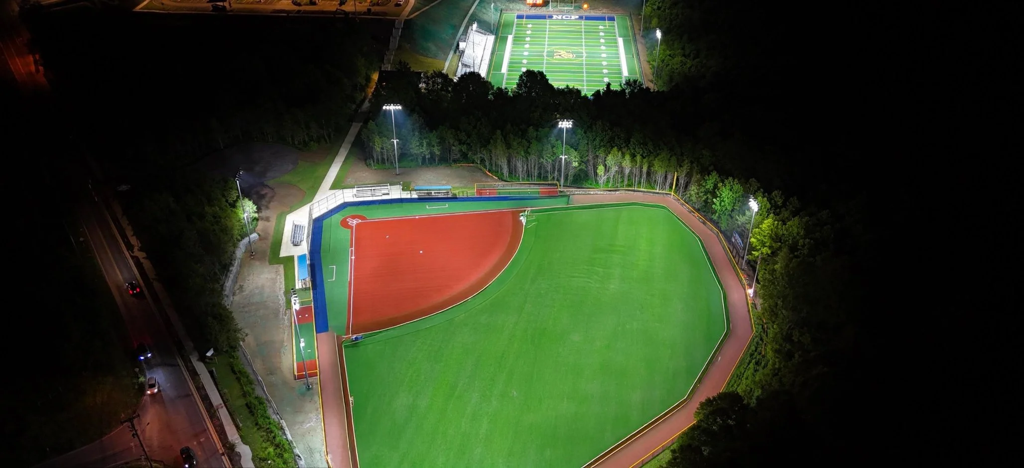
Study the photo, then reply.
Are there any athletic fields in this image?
Yes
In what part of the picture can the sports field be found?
top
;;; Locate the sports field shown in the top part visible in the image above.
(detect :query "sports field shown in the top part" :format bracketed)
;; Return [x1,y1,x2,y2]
[506,19,623,96]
